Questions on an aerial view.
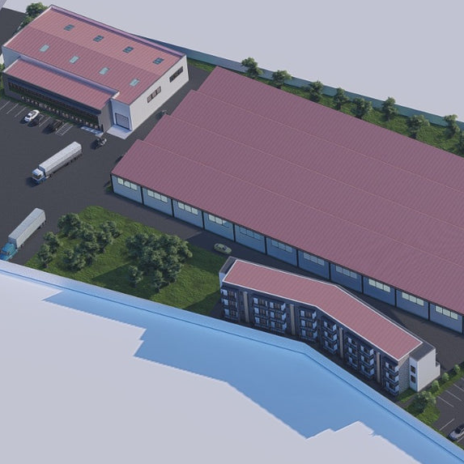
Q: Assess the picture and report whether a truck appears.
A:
Yes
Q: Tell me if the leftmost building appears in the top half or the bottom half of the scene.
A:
top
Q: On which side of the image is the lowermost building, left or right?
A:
right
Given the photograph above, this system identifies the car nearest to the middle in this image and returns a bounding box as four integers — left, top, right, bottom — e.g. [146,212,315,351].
[213,244,233,256]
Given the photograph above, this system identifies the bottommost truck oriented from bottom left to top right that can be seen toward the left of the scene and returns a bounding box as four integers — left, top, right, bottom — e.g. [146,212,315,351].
[0,209,48,261]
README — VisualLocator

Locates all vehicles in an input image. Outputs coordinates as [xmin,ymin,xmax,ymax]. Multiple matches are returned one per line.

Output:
[23,110,40,123]
[95,133,110,145]
[0,209,48,261]
[31,114,48,127]
[213,244,233,256]
[451,424,464,439]
[33,142,83,185]
[157,106,171,118]
[116,149,125,162]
